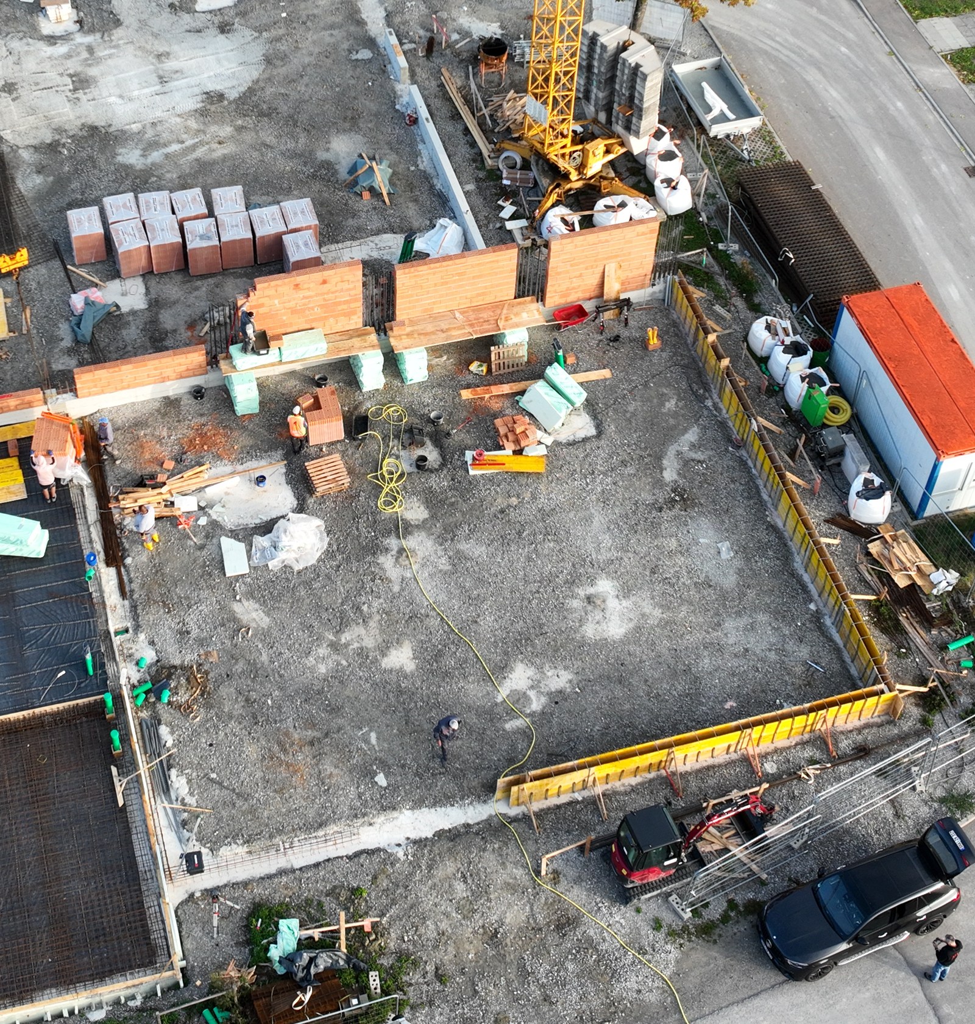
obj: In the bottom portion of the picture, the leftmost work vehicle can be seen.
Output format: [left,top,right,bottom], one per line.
[600,791,774,909]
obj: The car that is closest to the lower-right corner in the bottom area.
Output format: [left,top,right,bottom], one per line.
[755,811,975,978]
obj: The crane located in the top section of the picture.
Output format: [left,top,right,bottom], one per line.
[489,0,641,233]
